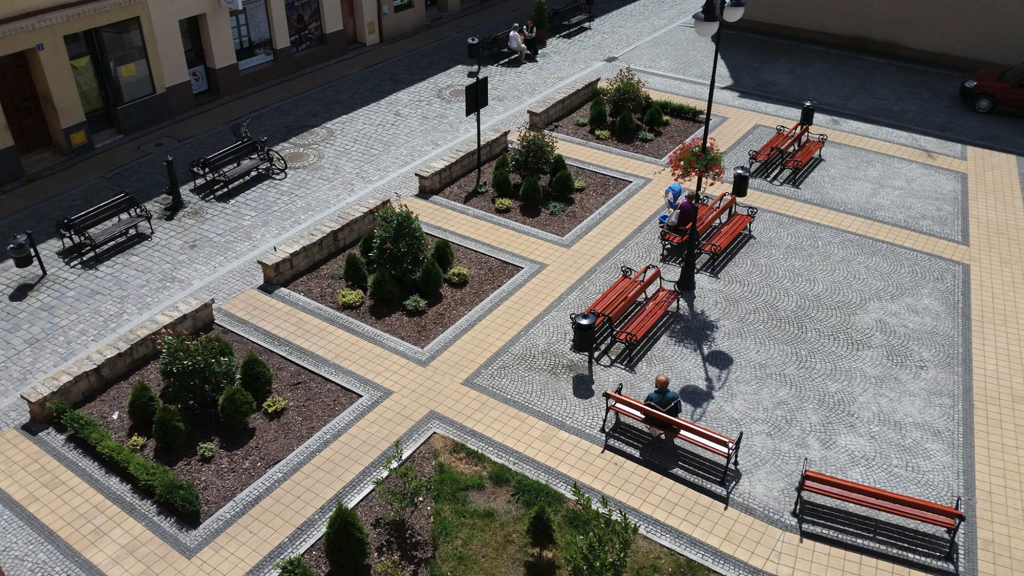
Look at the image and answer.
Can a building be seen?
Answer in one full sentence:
Yes, there's a building here.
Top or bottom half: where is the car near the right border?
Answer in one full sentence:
Seen from above, the car near the right border lies in the top half of the view.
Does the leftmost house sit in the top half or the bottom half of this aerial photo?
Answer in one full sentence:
It is in the top half that the leftmost house appears.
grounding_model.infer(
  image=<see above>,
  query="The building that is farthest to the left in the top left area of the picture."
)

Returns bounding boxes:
[0,0,174,181]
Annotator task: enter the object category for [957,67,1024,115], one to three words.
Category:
car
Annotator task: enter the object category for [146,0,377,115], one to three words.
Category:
house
